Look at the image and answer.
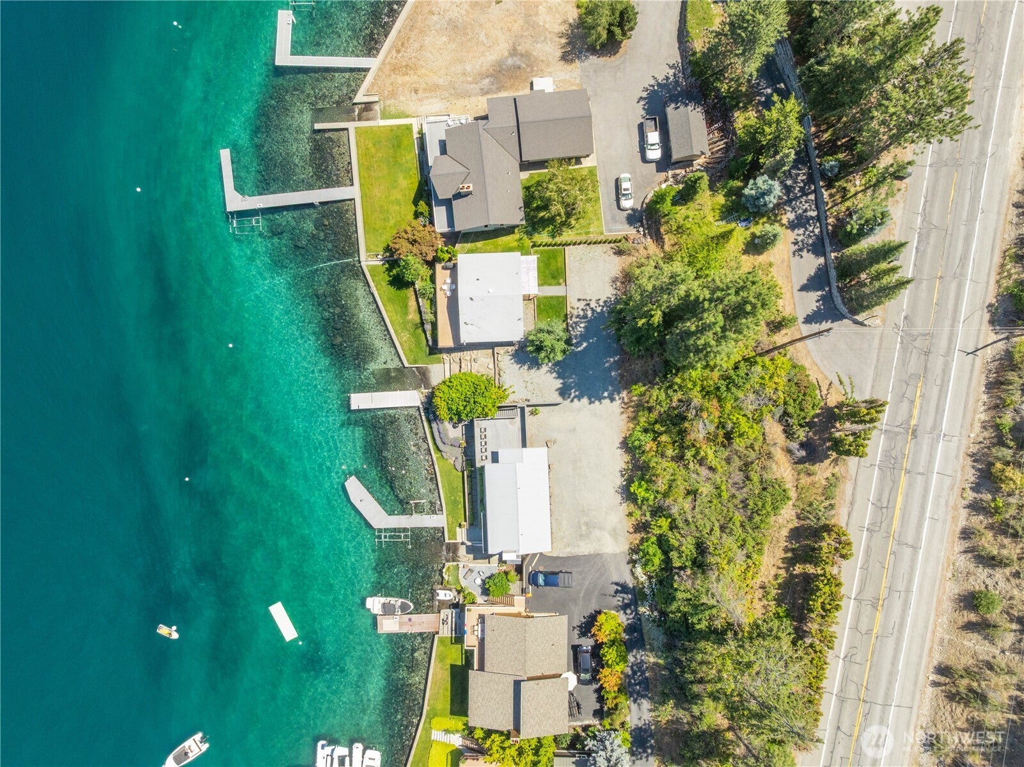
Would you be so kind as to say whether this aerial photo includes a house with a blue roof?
No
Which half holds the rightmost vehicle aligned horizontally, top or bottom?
bottom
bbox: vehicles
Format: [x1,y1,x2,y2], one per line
[618,172,637,209]
[577,648,596,686]
[529,571,574,591]
[642,114,663,161]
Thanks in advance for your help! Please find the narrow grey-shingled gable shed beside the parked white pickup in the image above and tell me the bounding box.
[662,102,709,168]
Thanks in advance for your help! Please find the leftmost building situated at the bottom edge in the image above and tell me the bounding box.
[465,594,568,743]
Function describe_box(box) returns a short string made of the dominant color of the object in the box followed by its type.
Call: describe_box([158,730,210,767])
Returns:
white boat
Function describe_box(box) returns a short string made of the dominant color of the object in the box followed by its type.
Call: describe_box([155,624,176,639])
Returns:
white boat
